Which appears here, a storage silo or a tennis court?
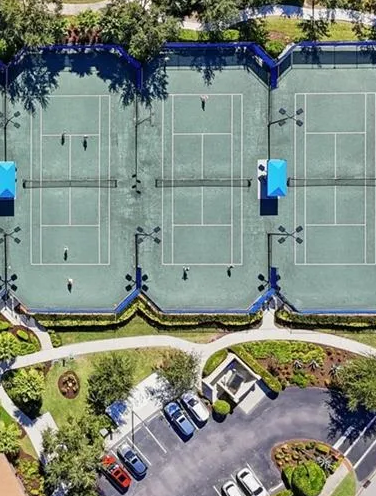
tennis court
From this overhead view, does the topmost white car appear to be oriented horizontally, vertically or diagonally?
diagonally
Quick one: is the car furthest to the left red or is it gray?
red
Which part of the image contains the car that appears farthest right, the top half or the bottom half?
bottom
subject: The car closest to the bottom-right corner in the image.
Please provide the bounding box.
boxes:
[237,466,264,496]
